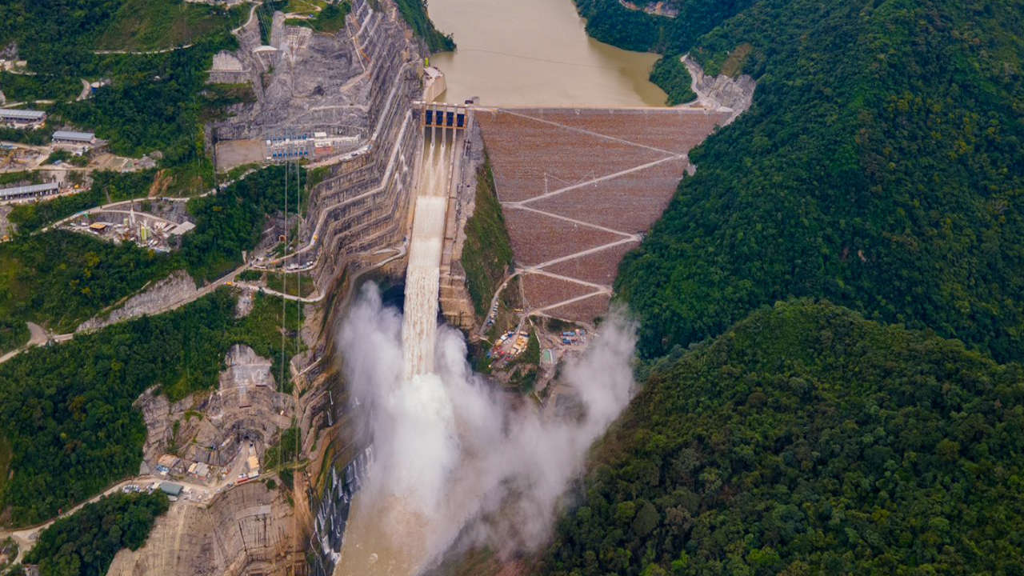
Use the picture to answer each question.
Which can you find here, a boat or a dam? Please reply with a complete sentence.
This aerial view contains a dam.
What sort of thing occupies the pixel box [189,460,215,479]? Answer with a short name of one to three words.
building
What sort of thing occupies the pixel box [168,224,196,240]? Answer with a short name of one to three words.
building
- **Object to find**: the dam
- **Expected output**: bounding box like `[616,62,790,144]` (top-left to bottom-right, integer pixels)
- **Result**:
[471,104,737,322]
